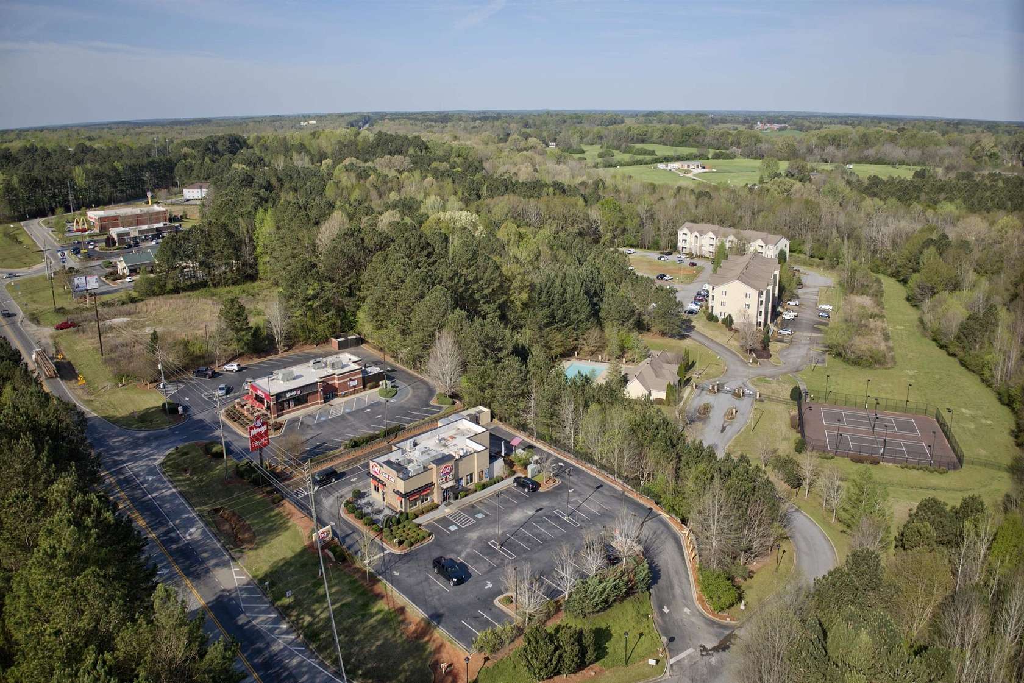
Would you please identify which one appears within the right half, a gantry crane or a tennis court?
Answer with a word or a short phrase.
tennis court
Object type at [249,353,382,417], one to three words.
building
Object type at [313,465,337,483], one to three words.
car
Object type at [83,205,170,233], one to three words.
building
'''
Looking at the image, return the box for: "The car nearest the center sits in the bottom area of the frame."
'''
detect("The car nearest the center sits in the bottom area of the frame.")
[514,475,538,491]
